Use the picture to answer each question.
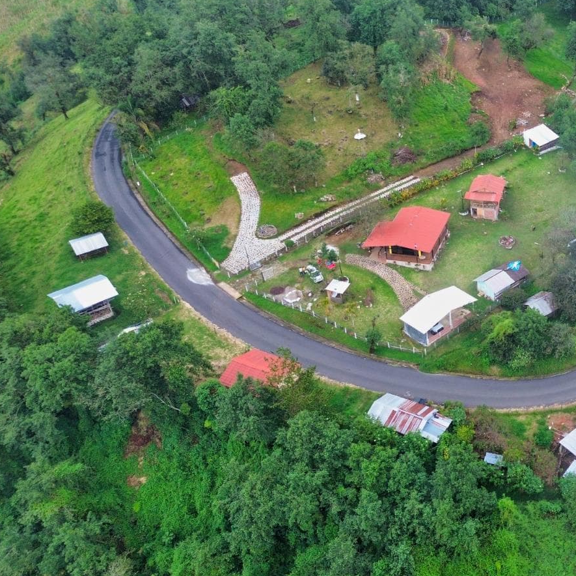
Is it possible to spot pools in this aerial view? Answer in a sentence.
No, no pool is visible in the scene.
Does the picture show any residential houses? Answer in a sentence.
Yes, I can see a residential house in this picture.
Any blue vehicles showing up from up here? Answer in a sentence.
No, there's no blue vehicle here.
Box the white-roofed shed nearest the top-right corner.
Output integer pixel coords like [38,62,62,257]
[523,124,559,154]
